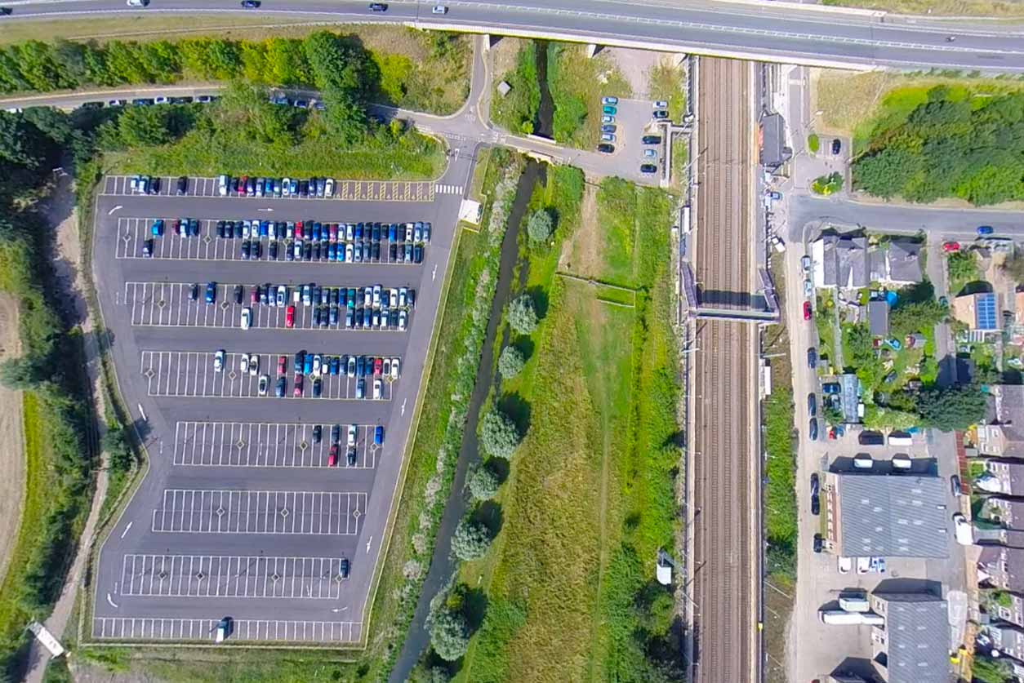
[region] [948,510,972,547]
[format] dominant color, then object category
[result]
white truck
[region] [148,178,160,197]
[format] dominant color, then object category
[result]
blue vehicle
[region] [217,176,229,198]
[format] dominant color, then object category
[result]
white vehicle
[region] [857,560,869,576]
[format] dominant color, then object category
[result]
white vehicle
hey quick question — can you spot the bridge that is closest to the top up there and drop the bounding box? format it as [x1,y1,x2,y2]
[413,0,884,71]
